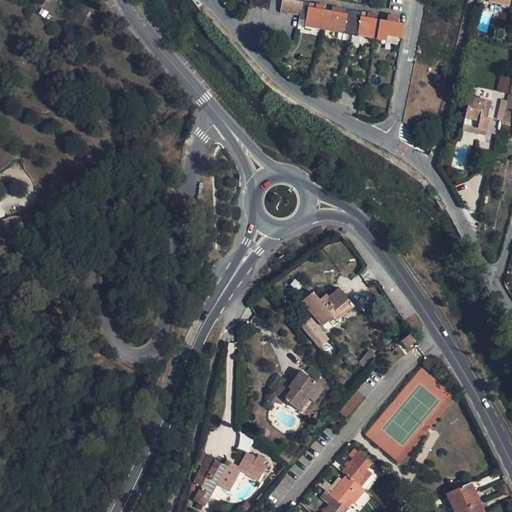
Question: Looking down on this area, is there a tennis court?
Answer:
Yes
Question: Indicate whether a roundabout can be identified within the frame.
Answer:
Yes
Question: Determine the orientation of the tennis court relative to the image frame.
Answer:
on a diagonal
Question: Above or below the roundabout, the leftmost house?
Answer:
below it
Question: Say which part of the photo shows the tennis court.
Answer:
bottom right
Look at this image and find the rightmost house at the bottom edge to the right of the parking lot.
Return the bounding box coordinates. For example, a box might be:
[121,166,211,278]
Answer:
[449,484,486,512]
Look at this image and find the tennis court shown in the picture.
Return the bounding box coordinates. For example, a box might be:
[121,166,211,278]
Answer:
[366,367,452,464]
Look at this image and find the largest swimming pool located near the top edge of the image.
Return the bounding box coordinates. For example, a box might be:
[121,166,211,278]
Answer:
[478,10,493,33]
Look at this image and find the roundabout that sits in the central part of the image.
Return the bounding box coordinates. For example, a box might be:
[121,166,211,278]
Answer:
[242,149,346,264]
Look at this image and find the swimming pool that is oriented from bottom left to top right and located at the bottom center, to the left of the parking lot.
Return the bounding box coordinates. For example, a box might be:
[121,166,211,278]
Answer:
[236,484,256,500]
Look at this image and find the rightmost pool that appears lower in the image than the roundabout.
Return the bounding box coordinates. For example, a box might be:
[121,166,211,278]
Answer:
[276,410,296,428]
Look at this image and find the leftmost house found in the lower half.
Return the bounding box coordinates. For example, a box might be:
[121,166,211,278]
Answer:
[190,454,270,508]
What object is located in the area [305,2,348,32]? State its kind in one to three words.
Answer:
house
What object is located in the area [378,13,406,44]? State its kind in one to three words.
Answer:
house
